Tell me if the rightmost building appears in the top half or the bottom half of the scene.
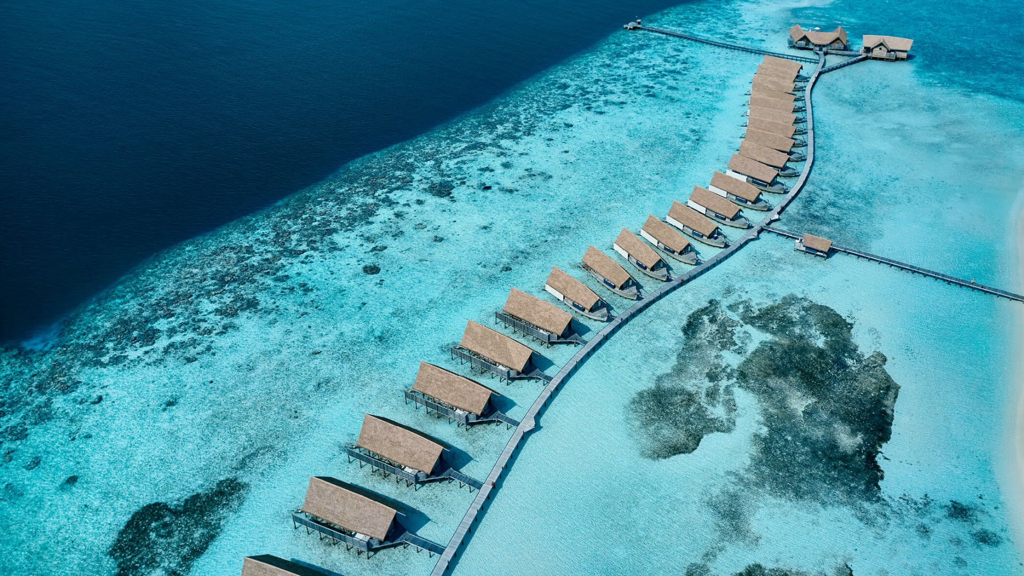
top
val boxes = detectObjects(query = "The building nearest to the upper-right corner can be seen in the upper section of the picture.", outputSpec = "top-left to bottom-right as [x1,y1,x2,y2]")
[854,35,914,66]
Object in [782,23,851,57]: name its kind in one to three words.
building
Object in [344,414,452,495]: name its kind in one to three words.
house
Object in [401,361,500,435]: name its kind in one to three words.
house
